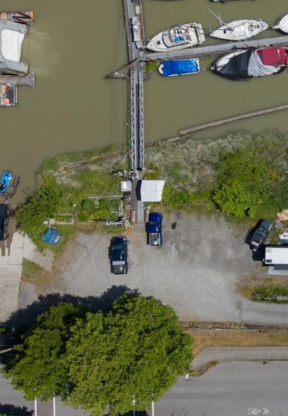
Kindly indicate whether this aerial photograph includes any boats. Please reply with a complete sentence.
Yes, I can see a boat in this picture.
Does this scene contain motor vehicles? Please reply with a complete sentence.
Yes, I can see a motor vehicle in this picture.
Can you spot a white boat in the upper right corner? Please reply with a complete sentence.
Yes, looking in the upper right corner, one can make out a white boat.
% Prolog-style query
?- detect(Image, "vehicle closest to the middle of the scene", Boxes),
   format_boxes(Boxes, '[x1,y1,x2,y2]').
[145,213,164,246]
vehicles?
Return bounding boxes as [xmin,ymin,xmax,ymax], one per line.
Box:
[262,238,288,271]
[0,203,12,240]
[145,213,164,246]
[245,217,273,253]
[108,237,130,275]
